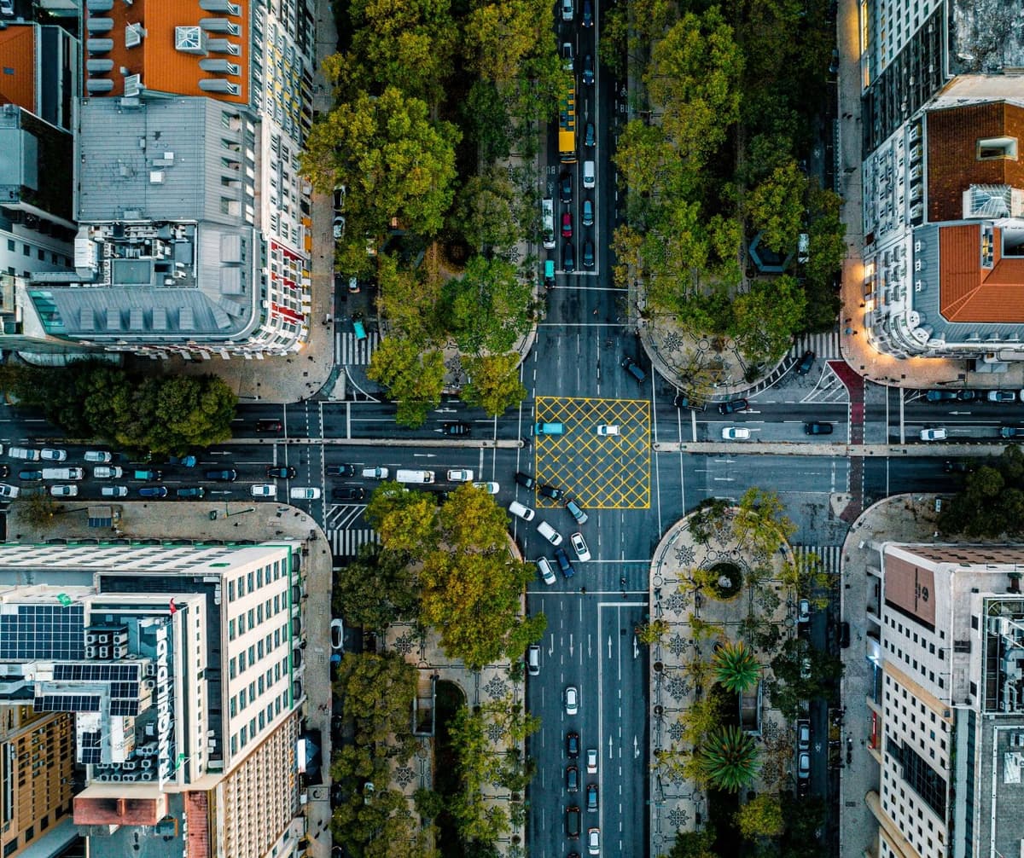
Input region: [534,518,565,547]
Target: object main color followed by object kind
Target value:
white van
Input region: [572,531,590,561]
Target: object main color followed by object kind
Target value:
white car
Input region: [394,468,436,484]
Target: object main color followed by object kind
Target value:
white vehicle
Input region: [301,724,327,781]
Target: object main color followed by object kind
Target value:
black tent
